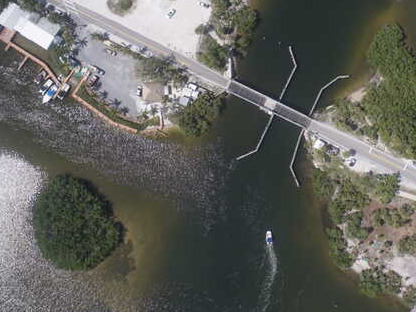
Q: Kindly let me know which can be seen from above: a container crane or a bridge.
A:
bridge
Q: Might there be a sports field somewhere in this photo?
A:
No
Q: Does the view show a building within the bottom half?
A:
No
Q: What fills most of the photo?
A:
water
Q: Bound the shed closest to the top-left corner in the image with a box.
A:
[0,2,29,32]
